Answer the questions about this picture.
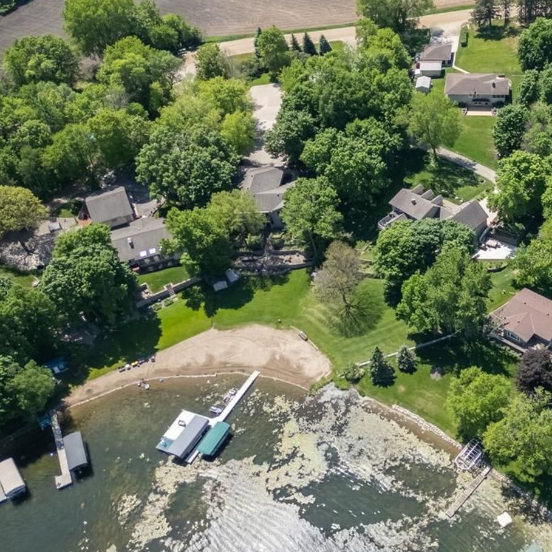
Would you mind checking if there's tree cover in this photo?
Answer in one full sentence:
Yes, there's tree cover in this view.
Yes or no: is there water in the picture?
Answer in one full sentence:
Yes, there is water in the image.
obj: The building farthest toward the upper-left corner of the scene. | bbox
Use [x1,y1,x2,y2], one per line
[74,186,135,235]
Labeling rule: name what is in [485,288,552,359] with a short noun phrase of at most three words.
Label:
house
